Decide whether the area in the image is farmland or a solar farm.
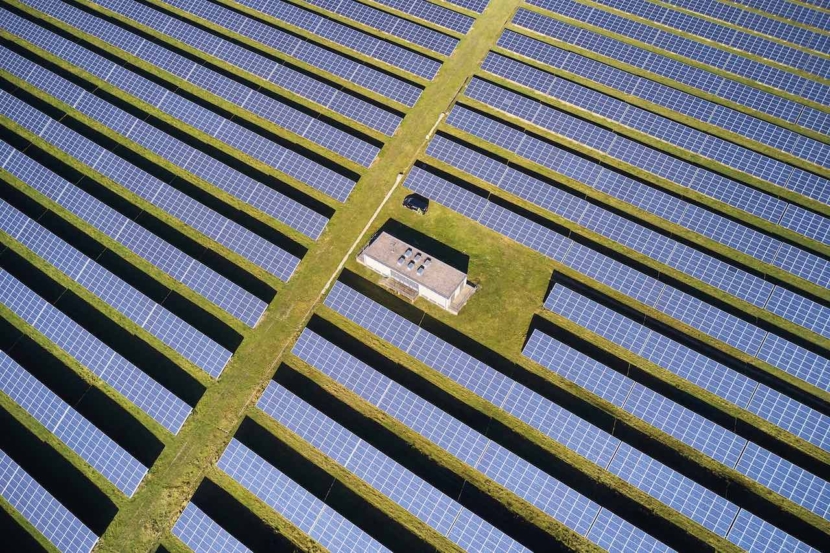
solar farm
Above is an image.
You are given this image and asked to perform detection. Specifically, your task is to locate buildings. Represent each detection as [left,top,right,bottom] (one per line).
[364,231,467,307]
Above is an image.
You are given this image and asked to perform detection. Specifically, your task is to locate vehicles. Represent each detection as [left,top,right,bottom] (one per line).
[402,199,428,215]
